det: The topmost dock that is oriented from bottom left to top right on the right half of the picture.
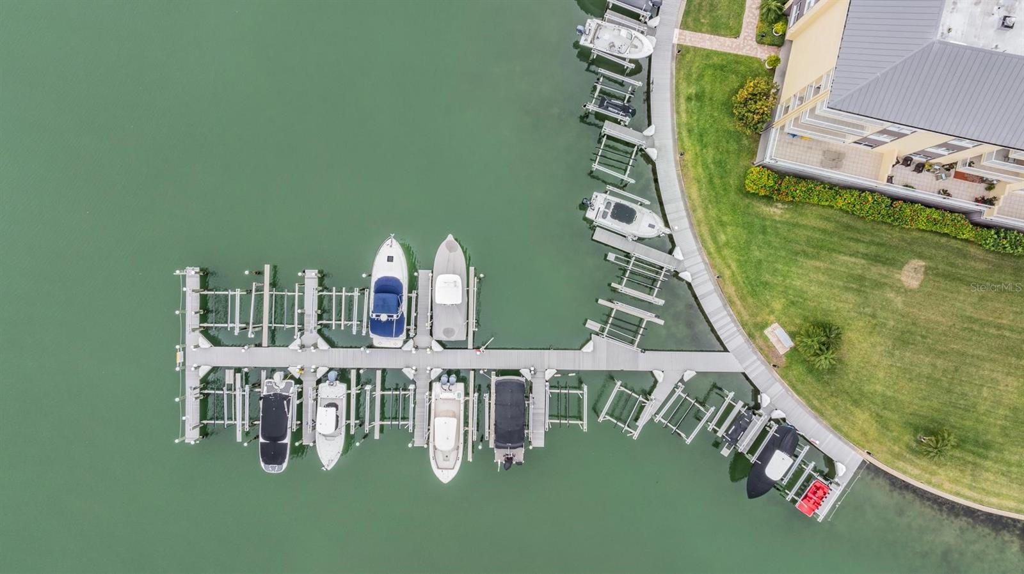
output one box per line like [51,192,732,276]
[635,371,684,426]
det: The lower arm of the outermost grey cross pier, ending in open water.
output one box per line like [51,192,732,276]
[185,366,204,443]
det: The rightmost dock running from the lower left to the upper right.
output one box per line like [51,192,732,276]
[815,465,858,521]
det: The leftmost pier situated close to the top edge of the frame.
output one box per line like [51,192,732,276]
[606,9,656,36]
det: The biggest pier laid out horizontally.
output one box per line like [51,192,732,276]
[186,347,744,373]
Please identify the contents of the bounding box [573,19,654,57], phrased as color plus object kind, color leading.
white boat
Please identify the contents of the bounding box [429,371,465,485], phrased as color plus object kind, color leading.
white boat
